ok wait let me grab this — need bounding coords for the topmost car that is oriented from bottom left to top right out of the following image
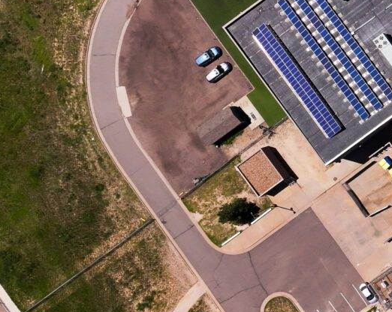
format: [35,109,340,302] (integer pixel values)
[197,46,222,65]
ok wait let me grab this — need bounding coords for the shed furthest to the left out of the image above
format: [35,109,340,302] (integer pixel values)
[197,107,247,145]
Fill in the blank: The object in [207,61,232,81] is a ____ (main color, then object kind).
white car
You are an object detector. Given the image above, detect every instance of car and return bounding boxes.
[358,279,378,302]
[197,46,222,65]
[207,61,232,81]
